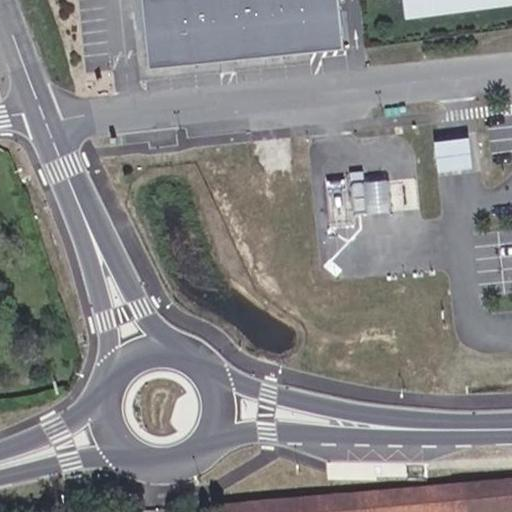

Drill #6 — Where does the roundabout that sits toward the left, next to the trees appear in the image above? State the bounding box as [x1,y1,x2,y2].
[92,338,232,477]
